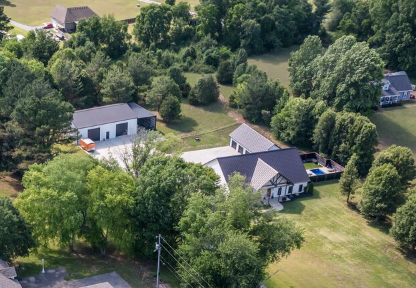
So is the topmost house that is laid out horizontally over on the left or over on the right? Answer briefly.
left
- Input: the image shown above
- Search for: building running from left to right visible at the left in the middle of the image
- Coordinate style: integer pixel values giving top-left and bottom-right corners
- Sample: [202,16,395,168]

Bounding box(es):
[58,101,156,144]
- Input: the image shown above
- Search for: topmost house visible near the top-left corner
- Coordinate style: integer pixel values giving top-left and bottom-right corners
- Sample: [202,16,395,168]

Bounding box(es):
[47,5,100,31]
